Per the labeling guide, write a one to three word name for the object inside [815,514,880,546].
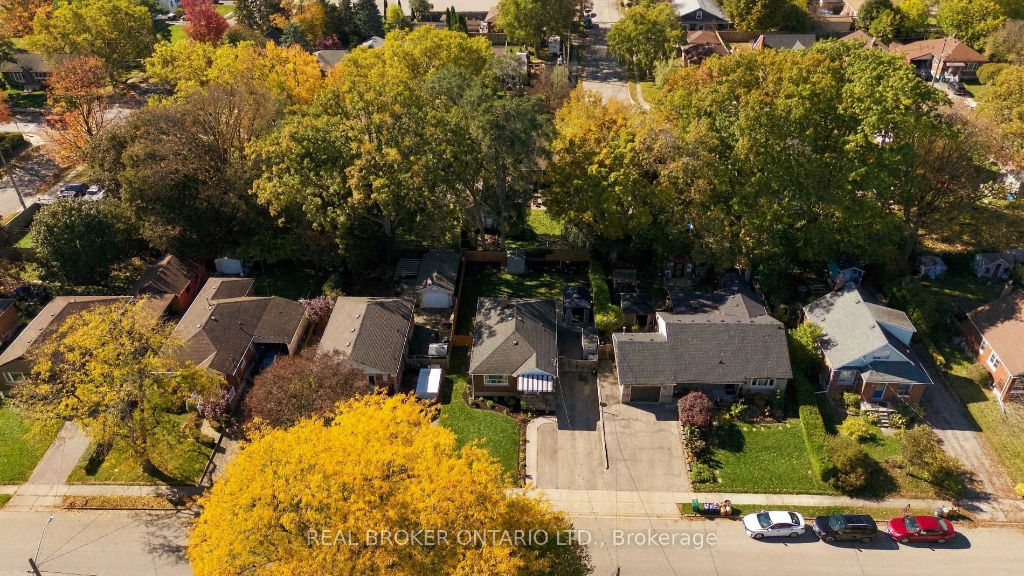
car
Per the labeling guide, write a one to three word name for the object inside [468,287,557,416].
house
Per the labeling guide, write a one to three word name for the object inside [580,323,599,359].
shed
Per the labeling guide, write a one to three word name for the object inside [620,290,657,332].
building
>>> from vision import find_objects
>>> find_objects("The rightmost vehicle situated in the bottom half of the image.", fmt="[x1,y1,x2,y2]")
[887,508,956,546]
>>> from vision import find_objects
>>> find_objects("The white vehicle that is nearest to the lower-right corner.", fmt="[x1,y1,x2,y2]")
[745,511,807,541]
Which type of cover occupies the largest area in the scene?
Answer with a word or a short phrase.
trees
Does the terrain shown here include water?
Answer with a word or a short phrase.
No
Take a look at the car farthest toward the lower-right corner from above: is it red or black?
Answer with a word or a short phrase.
red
